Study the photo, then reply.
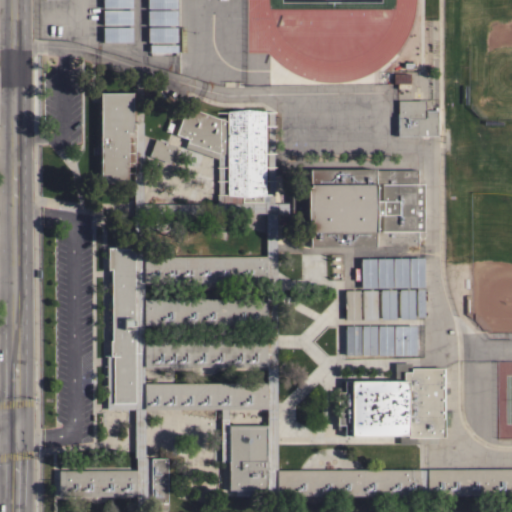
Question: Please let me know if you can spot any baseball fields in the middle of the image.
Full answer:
No, I can find no baseball field in the middle of the image.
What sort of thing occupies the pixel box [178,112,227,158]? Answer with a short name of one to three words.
building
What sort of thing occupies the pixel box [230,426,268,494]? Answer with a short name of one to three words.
building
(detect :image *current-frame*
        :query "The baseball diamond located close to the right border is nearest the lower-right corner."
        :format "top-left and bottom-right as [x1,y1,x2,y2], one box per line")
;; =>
[473,194,512,334]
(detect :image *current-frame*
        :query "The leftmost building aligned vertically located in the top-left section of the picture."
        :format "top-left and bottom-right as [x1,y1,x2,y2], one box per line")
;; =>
[102,93,136,180]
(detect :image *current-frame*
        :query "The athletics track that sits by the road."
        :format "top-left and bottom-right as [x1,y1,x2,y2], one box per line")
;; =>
[250,0,417,82]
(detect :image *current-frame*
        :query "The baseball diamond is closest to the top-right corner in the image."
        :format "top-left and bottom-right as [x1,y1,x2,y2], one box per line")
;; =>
[471,0,512,121]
